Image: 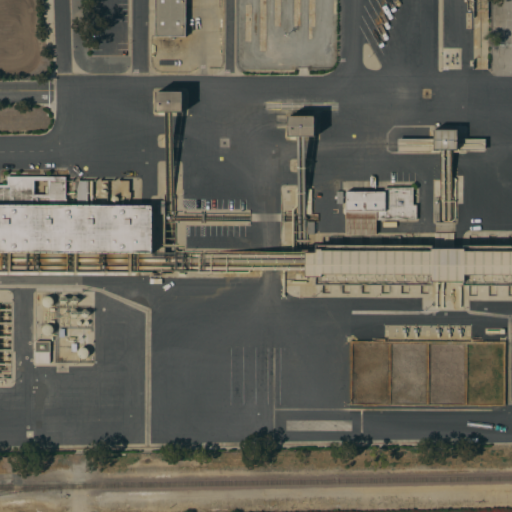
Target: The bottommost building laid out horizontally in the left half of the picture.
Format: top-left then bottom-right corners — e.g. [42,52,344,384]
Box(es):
[0,204,152,252]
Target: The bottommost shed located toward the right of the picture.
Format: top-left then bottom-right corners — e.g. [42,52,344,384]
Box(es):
[306,249,512,282]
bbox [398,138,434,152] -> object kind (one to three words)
shed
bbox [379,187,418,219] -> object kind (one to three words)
building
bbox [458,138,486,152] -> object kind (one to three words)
shed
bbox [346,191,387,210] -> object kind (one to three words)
building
